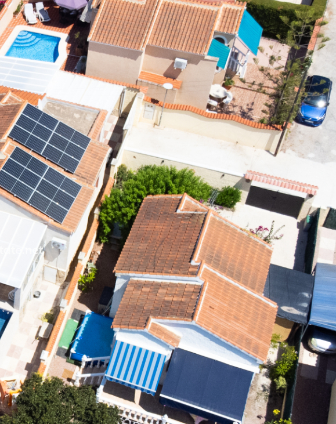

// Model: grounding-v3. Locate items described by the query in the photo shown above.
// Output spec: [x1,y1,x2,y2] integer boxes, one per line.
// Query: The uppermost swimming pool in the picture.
[0,25,69,67]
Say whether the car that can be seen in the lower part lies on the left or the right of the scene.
right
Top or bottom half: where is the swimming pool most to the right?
bottom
